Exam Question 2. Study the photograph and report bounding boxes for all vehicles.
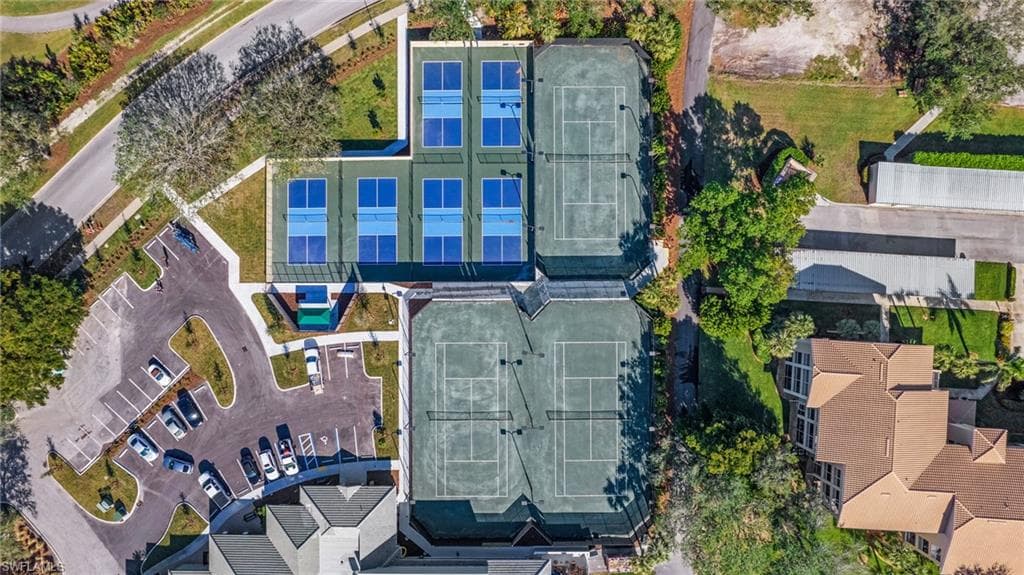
[278,439,300,476]
[259,450,280,481]
[177,395,204,428]
[147,362,173,388]
[200,471,233,509]
[128,432,159,460]
[159,409,187,439]
[163,455,196,475]
[305,348,323,392]
[240,453,263,484]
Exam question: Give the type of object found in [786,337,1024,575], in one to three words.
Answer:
house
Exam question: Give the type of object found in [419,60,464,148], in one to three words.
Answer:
sports court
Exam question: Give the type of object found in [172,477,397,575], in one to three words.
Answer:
building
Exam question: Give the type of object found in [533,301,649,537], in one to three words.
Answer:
tennis court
